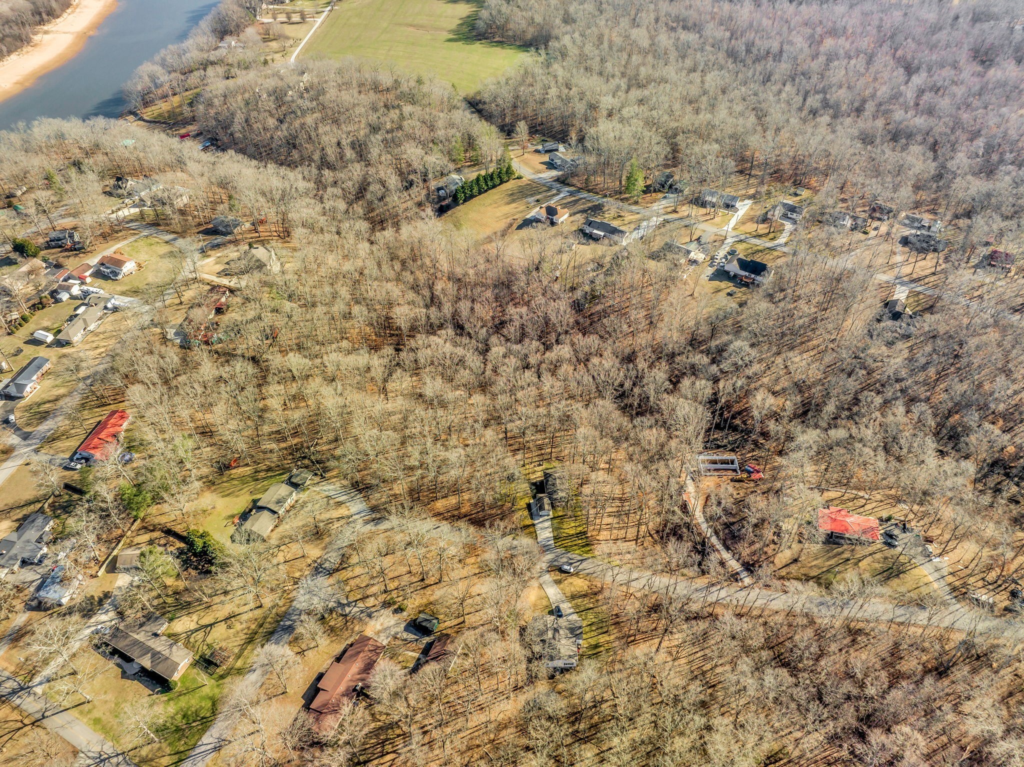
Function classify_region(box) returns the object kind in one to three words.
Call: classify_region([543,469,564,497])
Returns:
house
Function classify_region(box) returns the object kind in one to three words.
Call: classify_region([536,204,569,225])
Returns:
house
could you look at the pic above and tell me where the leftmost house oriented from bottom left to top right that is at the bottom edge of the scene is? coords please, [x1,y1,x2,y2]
[299,635,385,745]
